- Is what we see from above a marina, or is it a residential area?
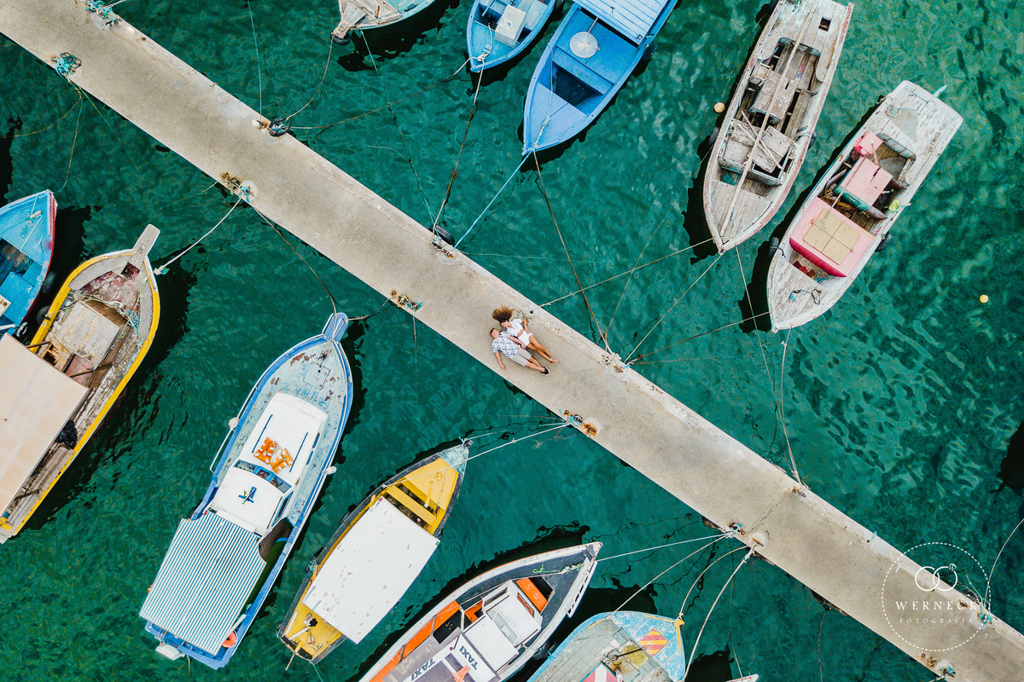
marina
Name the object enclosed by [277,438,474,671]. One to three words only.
boat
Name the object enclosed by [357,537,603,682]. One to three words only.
boat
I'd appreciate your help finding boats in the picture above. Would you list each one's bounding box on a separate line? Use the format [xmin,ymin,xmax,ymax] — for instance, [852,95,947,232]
[332,0,440,42]
[0,189,75,341]
[139,312,354,676]
[522,0,677,157]
[464,0,557,80]
[357,537,603,682]
[277,438,474,671]
[0,224,168,545]
[698,662,759,682]
[701,0,853,254]
[526,606,686,682]
[762,81,961,333]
